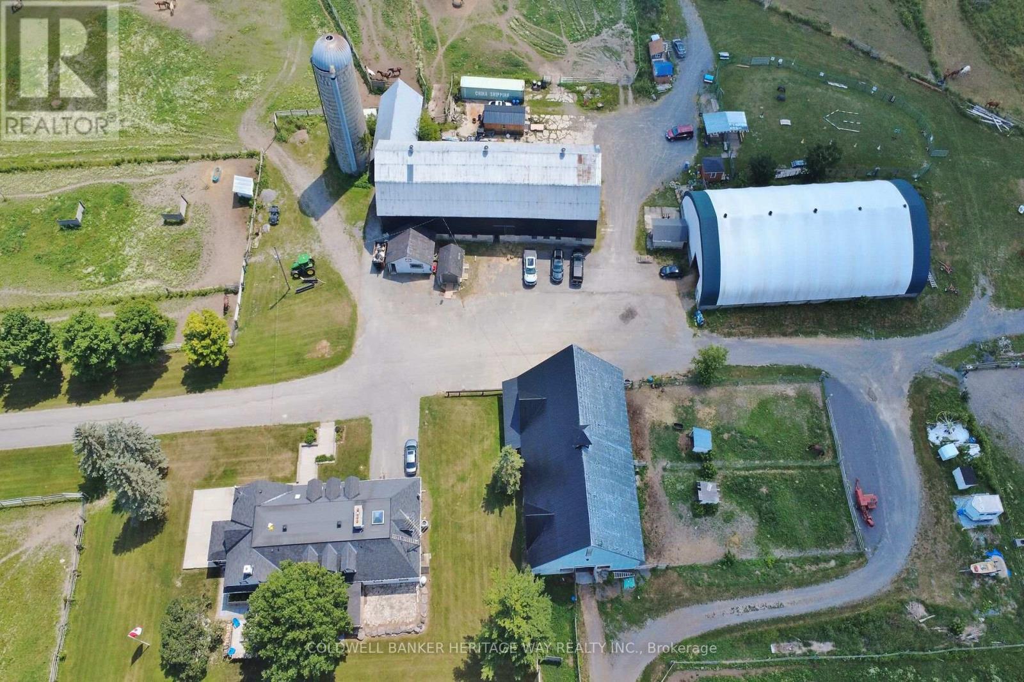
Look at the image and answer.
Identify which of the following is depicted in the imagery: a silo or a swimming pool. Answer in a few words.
silo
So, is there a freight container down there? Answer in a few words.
Yes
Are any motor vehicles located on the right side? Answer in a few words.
Yes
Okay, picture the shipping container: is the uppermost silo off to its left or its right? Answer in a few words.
on its left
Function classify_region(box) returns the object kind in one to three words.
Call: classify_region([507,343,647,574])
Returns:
barn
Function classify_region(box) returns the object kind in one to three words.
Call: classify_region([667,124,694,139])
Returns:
car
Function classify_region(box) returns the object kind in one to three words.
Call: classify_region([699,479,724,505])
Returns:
shed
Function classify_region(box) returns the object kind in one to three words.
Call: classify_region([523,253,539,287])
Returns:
vehicle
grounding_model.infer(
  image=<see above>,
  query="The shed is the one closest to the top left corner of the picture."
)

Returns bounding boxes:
[226,181,256,208]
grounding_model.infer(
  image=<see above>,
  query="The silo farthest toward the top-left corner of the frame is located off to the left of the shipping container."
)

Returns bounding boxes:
[313,39,373,177]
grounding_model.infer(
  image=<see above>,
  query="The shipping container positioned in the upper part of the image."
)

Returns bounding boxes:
[461,78,526,103]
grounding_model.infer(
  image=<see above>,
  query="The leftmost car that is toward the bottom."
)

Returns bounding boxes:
[400,438,420,475]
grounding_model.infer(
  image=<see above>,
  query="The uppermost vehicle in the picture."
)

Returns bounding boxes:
[673,38,688,56]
